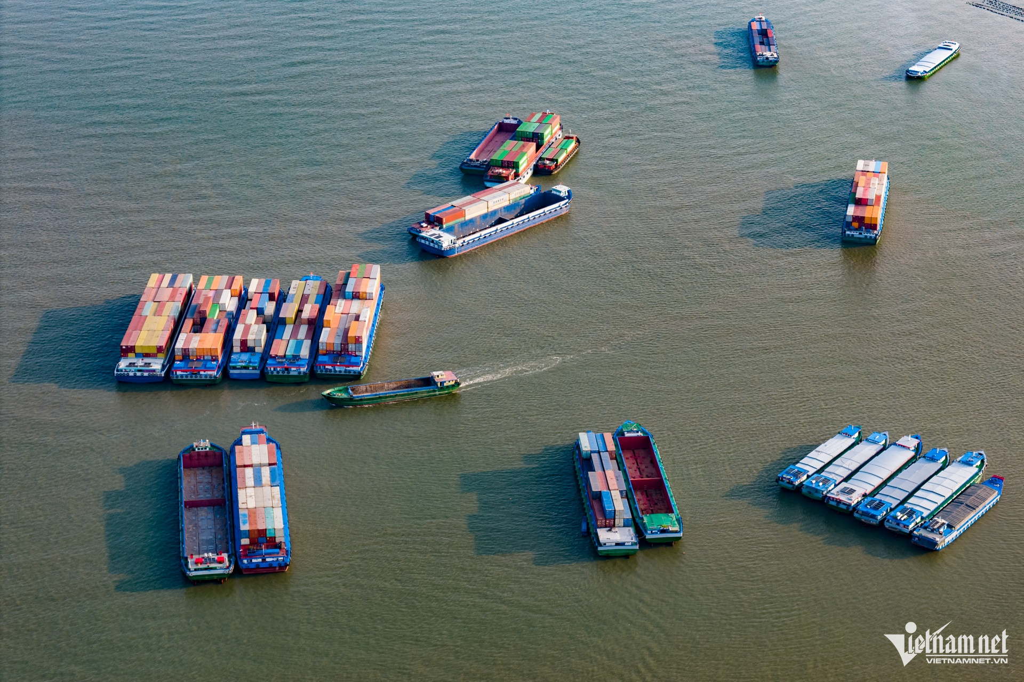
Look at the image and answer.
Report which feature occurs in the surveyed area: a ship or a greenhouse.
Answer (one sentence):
This aerial view contains a ship.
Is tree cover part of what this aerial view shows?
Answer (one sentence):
No, no tree cover is visible.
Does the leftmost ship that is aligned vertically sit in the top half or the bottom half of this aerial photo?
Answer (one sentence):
You can find the leftmost ship that is aligned vertically in the bottom half.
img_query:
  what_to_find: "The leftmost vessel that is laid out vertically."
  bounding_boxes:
[177,432,237,587]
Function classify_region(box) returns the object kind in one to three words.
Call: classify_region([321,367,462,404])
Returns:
boat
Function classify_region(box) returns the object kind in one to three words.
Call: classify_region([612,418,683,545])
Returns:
ship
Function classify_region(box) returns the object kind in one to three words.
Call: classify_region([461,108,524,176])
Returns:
ship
